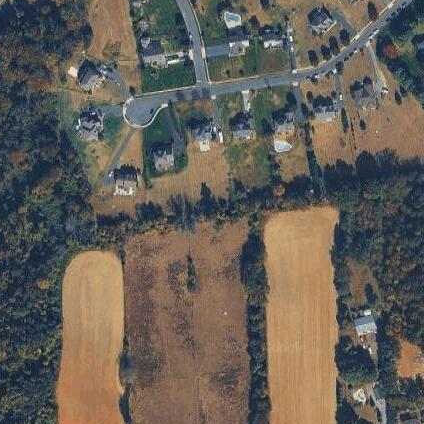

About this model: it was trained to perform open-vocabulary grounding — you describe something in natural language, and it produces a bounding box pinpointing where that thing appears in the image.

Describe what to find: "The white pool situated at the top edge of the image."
[224,11,242,27]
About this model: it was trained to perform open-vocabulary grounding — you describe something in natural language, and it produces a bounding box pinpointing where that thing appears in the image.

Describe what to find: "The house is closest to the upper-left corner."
[74,61,106,93]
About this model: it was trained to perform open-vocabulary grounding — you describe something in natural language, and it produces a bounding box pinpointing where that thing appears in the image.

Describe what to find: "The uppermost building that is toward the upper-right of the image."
[309,10,334,32]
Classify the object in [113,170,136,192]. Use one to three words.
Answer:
house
